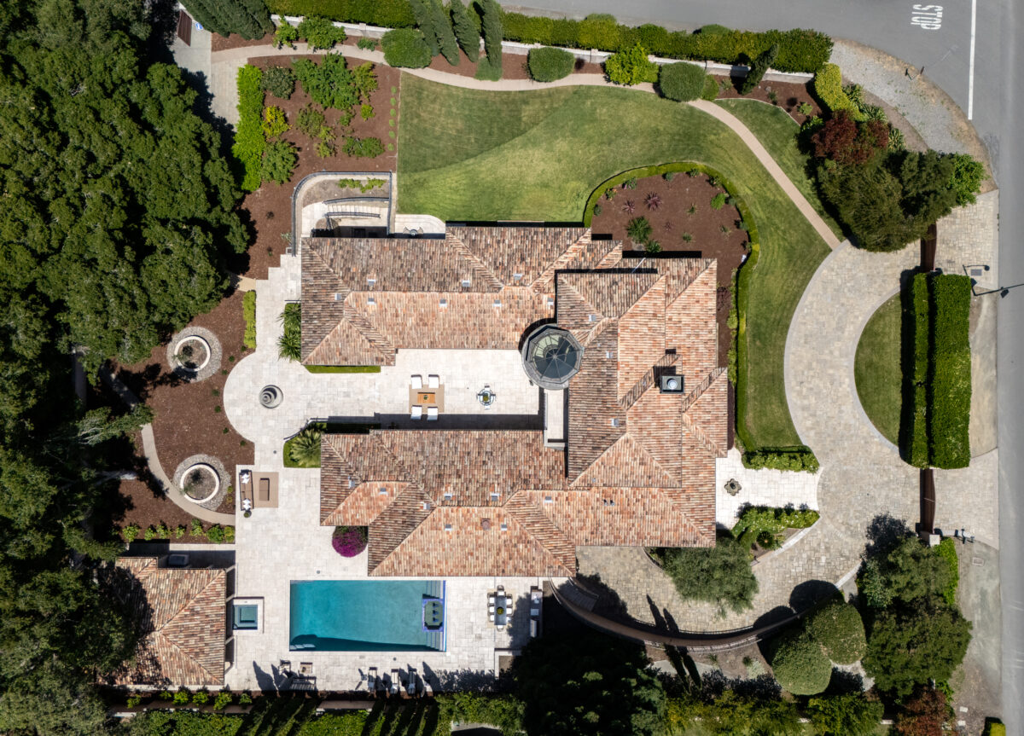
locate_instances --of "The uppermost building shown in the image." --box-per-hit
[300,225,728,577]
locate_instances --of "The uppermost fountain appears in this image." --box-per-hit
[257,385,283,409]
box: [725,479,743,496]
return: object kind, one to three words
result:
fountain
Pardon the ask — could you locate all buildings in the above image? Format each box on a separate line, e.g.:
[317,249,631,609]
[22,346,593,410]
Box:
[300,225,728,577]
[94,554,238,687]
